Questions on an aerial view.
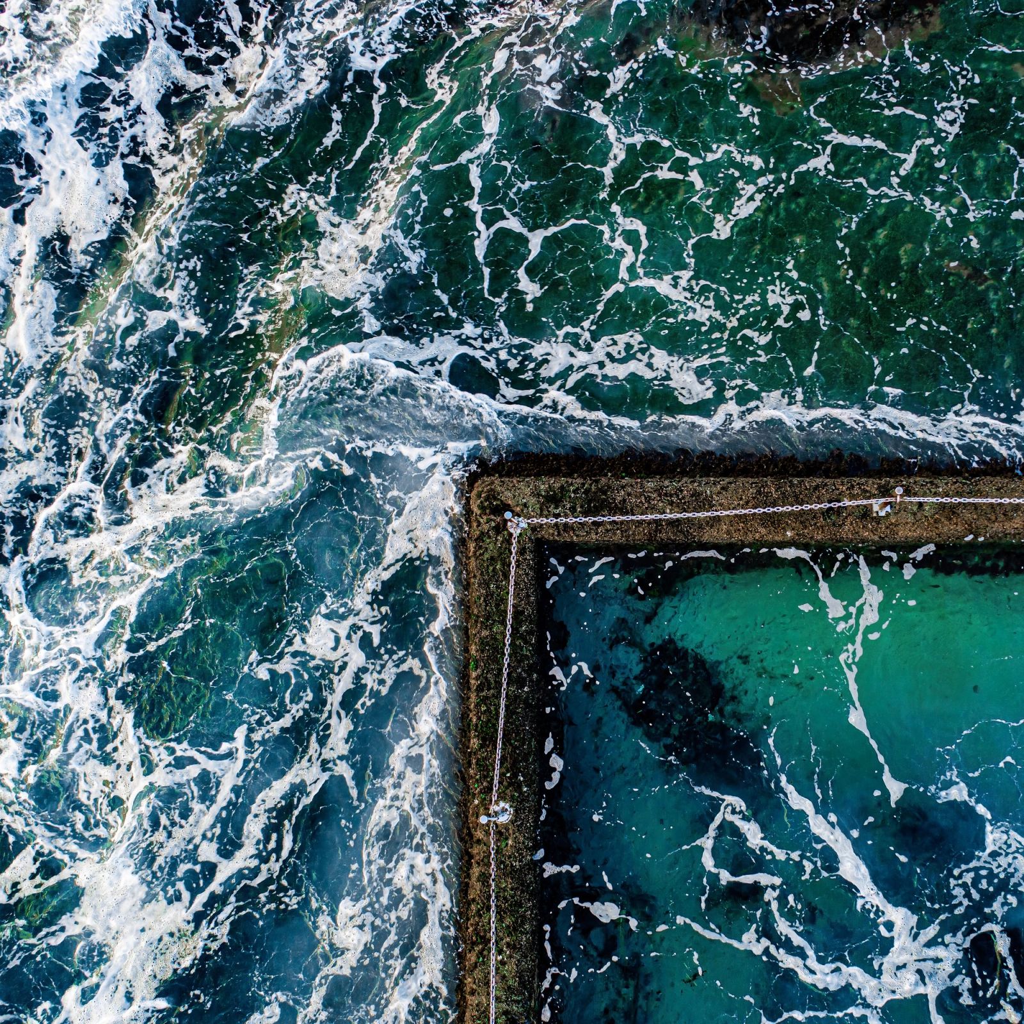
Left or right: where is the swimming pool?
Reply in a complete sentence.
You can find the swimming pool on the right side of the picture.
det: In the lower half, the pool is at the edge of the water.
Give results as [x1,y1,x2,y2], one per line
[538,544,1024,1024]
